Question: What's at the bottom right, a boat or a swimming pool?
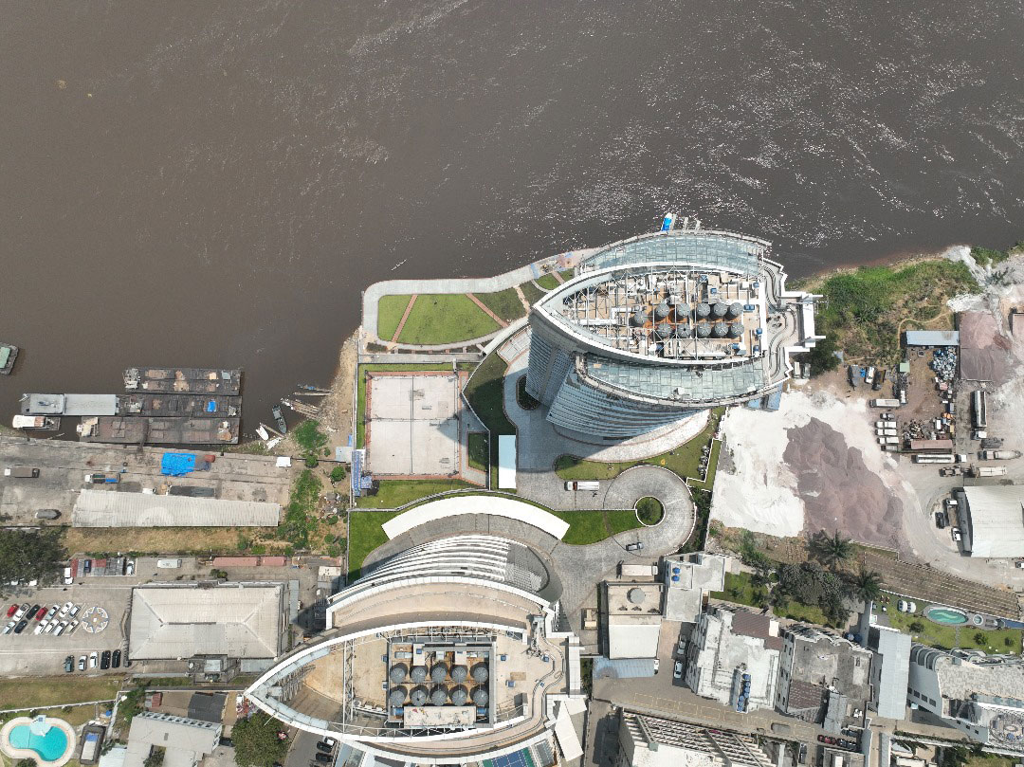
swimming pool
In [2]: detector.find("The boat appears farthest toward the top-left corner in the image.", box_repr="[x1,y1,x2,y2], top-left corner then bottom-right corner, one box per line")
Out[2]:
[0,343,21,375]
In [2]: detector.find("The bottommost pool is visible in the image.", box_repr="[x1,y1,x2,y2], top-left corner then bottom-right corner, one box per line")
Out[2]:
[1,715,75,767]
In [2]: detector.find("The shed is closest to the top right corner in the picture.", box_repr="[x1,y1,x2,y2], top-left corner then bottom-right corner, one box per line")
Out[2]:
[900,330,959,348]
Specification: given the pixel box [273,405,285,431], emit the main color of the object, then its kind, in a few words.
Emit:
gray boat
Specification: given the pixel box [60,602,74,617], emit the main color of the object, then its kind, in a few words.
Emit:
white car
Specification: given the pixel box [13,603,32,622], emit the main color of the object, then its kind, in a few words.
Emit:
white vehicle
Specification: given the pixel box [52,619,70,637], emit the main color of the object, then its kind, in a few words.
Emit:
white car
